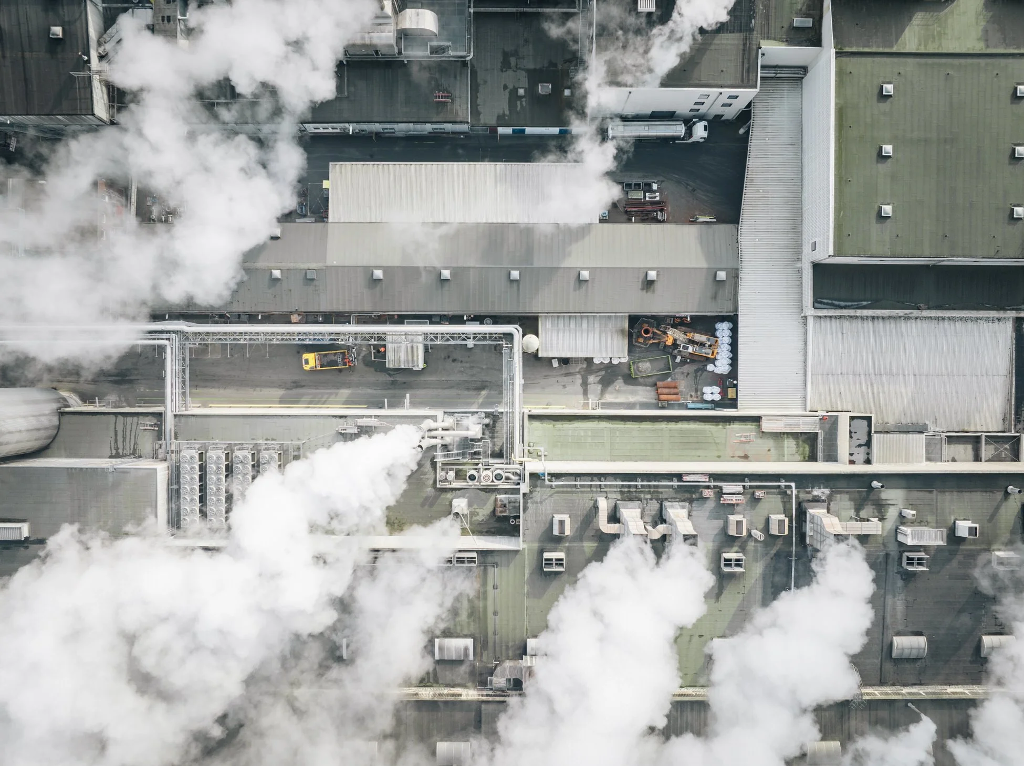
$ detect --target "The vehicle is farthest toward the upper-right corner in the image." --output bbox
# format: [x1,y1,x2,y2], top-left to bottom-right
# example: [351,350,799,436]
[604,120,710,143]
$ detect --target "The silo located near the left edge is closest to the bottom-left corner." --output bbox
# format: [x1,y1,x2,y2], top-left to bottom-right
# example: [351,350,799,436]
[0,386,78,461]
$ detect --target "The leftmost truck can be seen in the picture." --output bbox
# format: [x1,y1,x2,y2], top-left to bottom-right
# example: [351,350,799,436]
[300,343,360,373]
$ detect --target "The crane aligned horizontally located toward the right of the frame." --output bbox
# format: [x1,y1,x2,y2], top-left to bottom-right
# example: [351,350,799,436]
[644,329,724,364]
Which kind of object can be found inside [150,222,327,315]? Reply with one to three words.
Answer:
building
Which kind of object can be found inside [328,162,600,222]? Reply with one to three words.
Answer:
shed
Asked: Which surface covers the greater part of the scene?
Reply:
buildings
